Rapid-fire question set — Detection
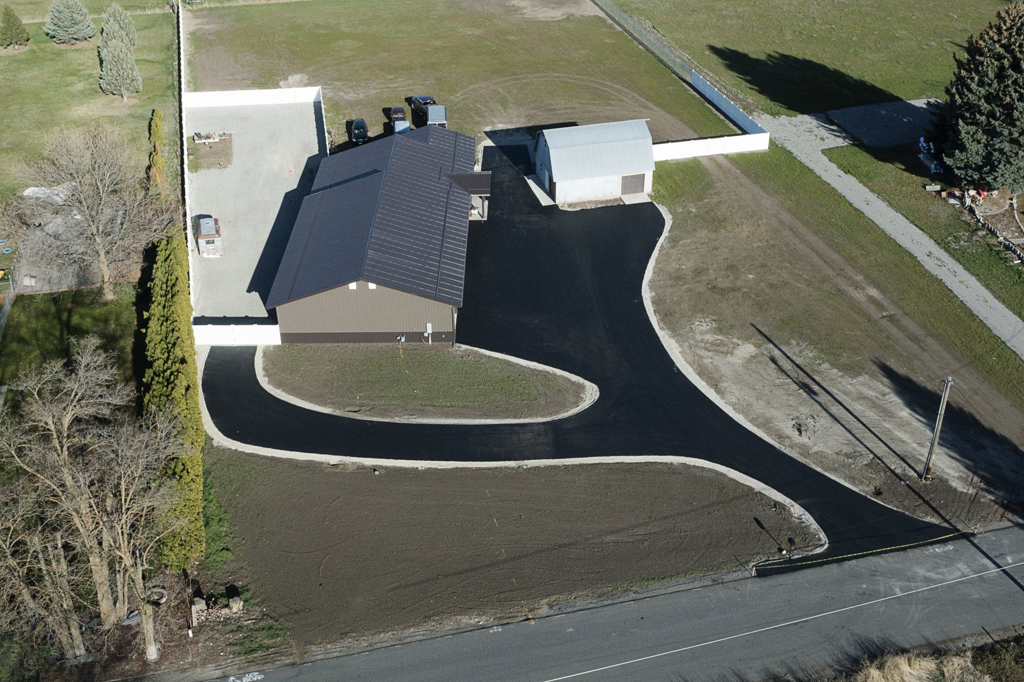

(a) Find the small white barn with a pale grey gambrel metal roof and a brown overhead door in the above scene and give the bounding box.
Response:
[525,117,657,205]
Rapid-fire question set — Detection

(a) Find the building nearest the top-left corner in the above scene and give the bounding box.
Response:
[264,123,493,346]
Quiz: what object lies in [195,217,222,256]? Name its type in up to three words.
trailer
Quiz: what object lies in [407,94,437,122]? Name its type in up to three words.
truck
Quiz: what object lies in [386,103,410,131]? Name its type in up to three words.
car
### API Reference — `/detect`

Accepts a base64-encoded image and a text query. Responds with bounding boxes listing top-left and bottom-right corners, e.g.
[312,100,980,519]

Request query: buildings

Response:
[525,117,657,205]
[264,123,493,346]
